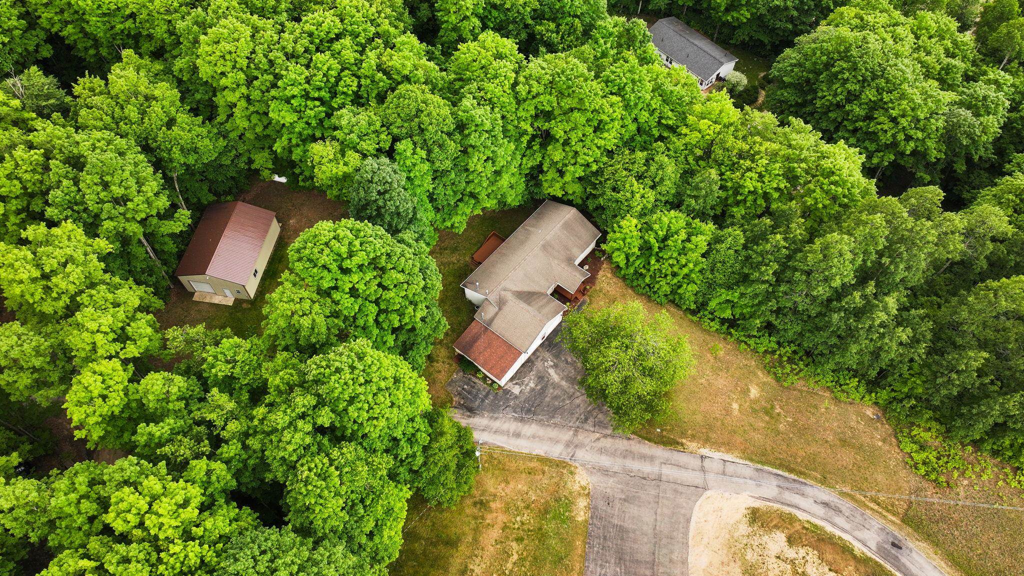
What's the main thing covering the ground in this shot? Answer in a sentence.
The scene is dominated by trees.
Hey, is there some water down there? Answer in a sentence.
No, water can't be seen anywhere here.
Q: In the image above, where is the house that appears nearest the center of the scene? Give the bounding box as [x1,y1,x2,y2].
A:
[453,200,601,386]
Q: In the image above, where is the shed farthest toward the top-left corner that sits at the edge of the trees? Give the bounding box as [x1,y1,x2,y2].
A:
[174,201,280,299]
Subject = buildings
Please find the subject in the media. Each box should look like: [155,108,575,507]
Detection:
[640,17,737,89]
[453,200,601,386]
[174,201,280,299]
